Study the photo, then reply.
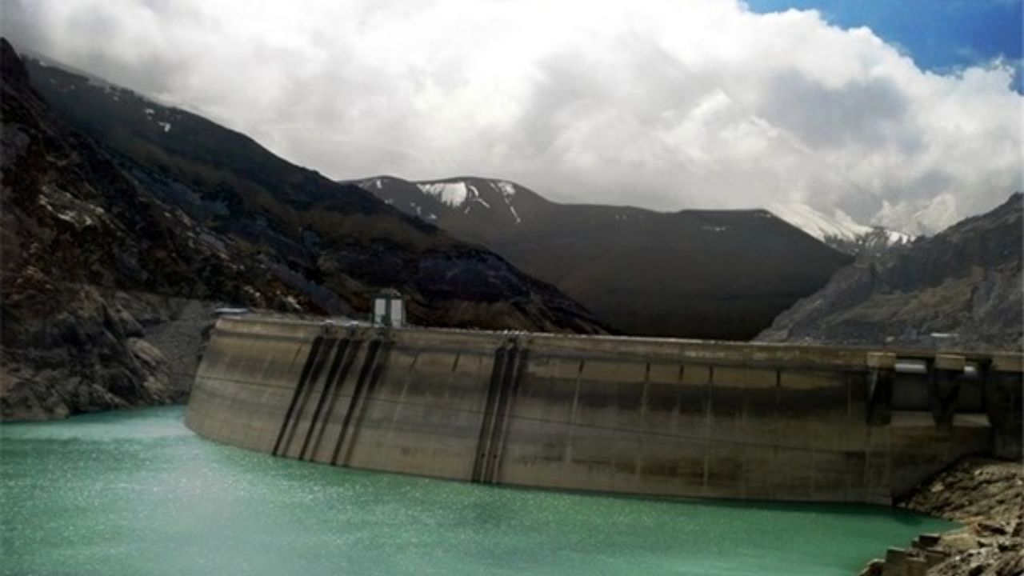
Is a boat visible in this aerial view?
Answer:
No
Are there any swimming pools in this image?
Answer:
No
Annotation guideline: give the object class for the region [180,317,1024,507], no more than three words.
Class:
dam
